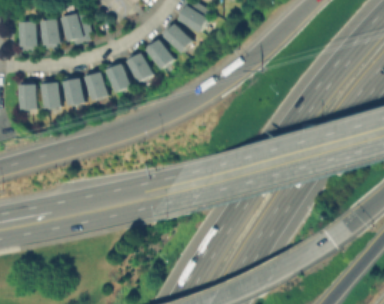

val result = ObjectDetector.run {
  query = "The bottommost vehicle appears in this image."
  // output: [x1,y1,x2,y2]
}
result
[176,258,198,293]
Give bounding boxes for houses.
[162,24,197,55]
[126,52,158,86]
[40,83,62,114]
[40,20,62,49]
[178,5,210,34]
[62,76,88,110]
[18,22,39,52]
[18,84,39,115]
[146,39,178,73]
[104,63,134,95]
[84,72,111,104]
[62,14,86,44]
